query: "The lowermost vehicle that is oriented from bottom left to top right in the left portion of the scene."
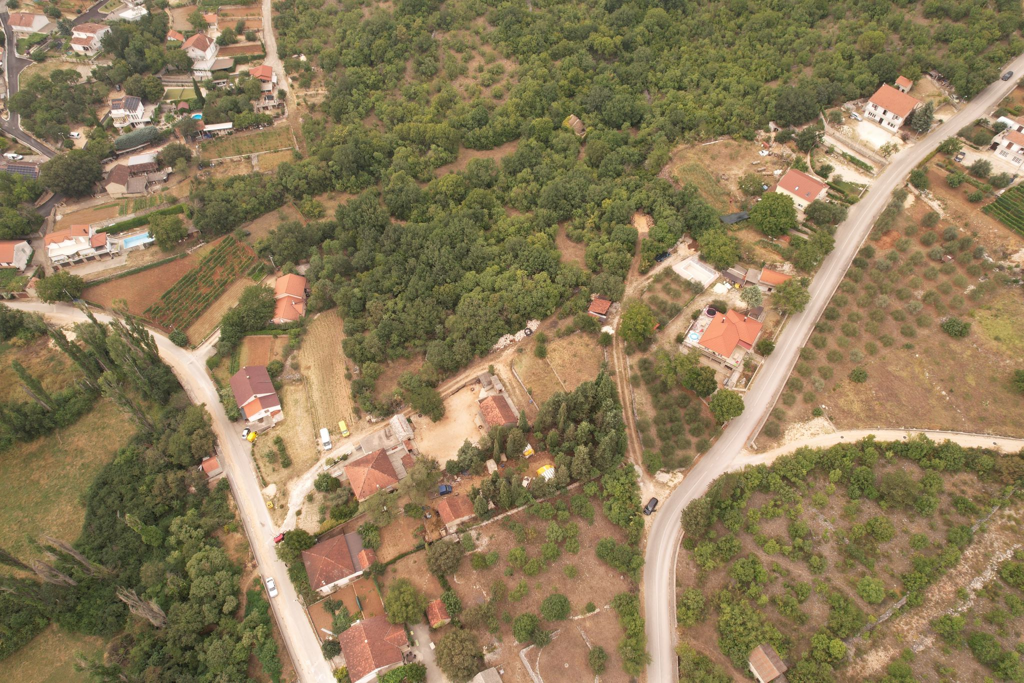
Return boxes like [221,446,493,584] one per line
[270,529,288,547]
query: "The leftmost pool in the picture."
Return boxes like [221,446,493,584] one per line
[122,231,154,249]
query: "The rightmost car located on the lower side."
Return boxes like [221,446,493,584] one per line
[642,496,660,517]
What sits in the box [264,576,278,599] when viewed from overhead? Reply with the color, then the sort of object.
white car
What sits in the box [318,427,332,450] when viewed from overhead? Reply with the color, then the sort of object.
white vehicle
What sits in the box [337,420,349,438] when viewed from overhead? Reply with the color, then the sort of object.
yellow vehicle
